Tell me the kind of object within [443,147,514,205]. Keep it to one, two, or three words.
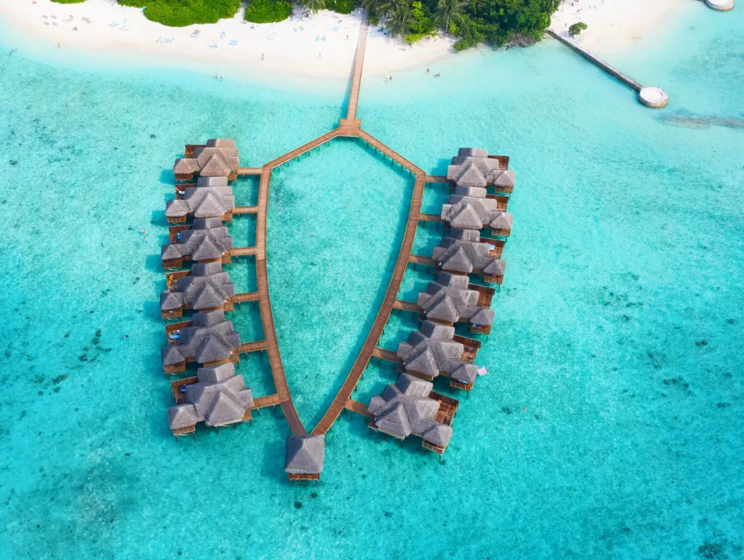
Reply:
house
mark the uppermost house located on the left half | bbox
[173,137,243,189]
